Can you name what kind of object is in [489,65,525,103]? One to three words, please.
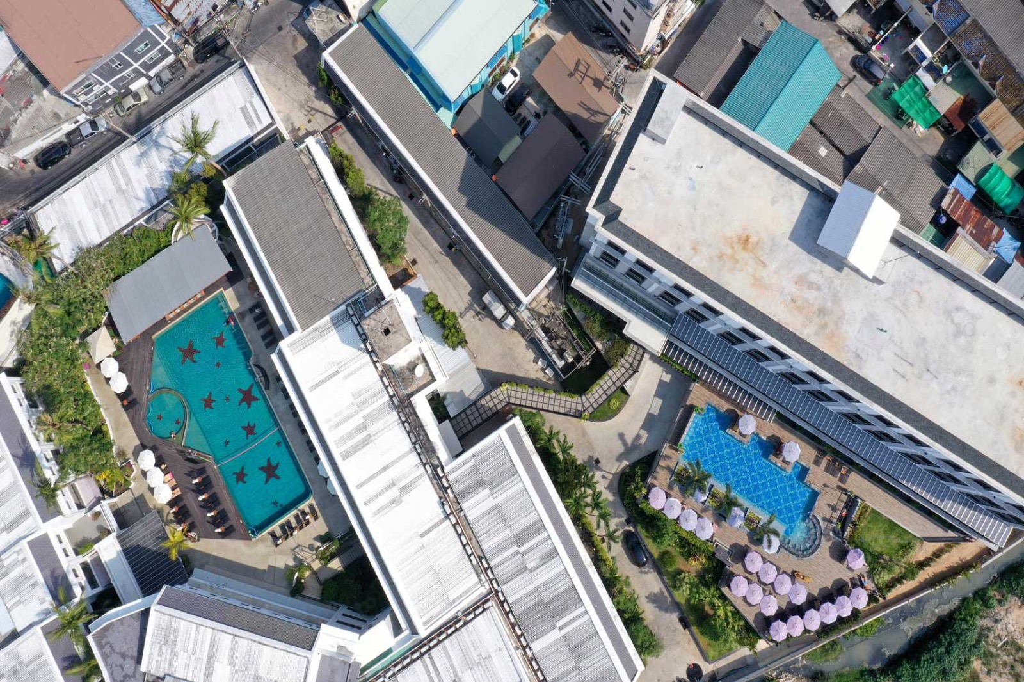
car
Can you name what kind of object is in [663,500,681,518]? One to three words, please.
umbrella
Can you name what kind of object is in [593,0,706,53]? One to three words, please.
building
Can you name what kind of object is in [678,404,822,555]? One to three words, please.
swimming pool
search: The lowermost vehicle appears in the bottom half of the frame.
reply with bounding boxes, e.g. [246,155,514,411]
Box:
[619,528,650,568]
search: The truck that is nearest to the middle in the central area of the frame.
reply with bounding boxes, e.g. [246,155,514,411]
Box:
[481,292,520,330]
